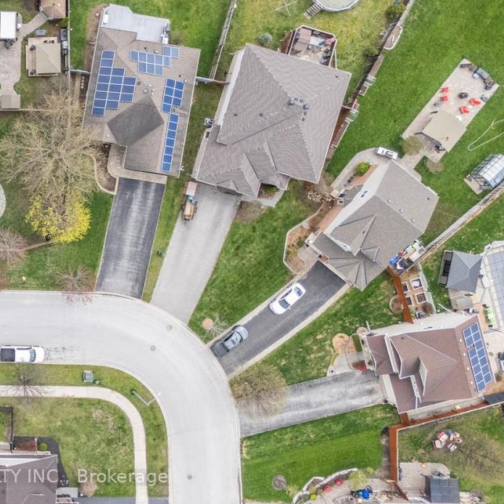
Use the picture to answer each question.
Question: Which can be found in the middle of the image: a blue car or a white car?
white car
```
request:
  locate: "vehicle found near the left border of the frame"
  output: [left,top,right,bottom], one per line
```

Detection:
[0,345,44,365]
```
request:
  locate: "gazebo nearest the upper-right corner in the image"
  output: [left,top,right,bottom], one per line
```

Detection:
[417,110,465,153]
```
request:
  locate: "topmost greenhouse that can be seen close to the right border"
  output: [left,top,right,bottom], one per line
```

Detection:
[465,155,504,189]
